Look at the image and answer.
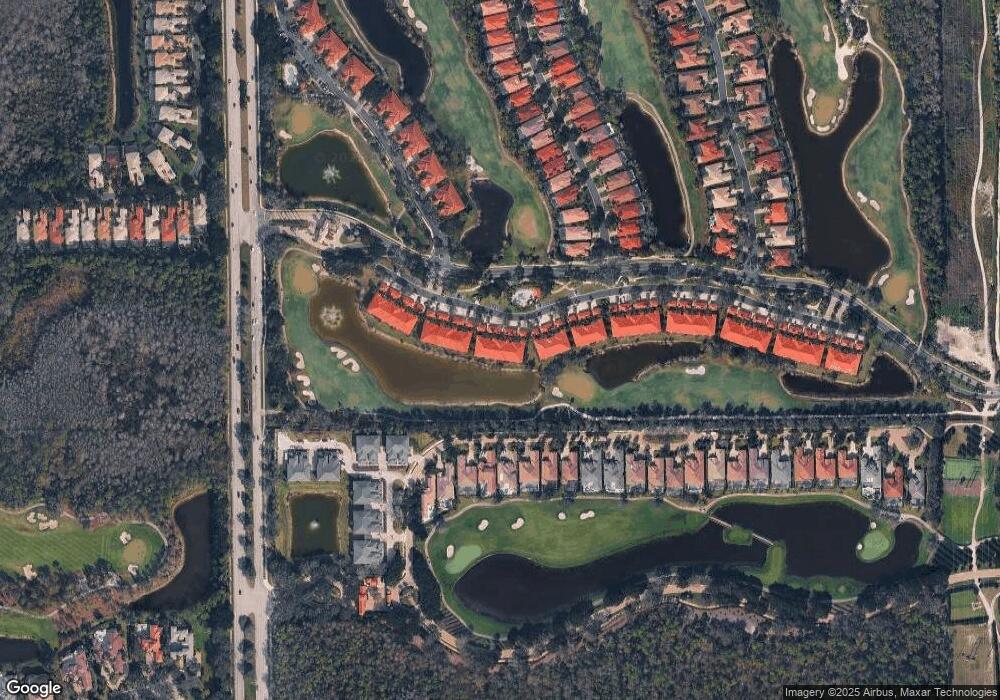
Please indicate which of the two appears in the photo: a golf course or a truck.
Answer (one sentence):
Of the two, only a golf course appears.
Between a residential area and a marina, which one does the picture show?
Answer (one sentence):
This looks like a residential area.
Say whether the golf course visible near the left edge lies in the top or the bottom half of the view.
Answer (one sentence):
You can find the golf course visible near the left edge in the bottom half.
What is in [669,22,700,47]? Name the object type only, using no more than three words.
house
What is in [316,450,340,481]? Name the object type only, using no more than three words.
building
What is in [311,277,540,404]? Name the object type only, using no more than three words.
pond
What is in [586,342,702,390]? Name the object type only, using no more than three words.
pond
